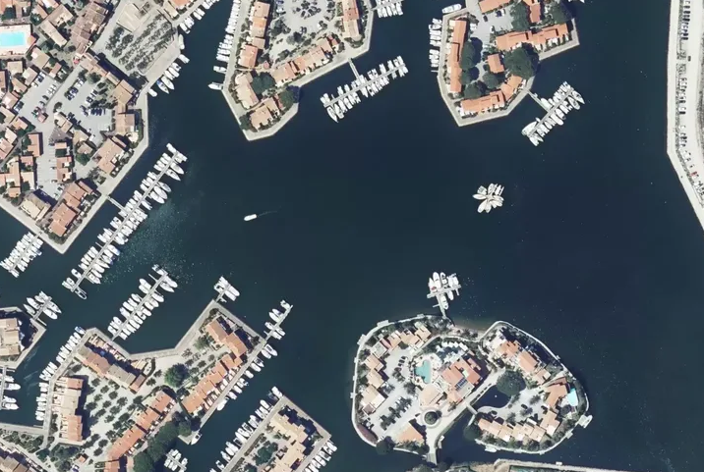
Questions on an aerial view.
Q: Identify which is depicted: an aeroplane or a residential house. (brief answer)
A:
residential house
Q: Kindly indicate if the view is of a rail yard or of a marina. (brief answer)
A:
marina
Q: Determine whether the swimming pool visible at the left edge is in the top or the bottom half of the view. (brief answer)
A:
top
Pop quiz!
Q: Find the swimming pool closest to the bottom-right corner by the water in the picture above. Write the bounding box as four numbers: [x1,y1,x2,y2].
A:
[562,388,578,409]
